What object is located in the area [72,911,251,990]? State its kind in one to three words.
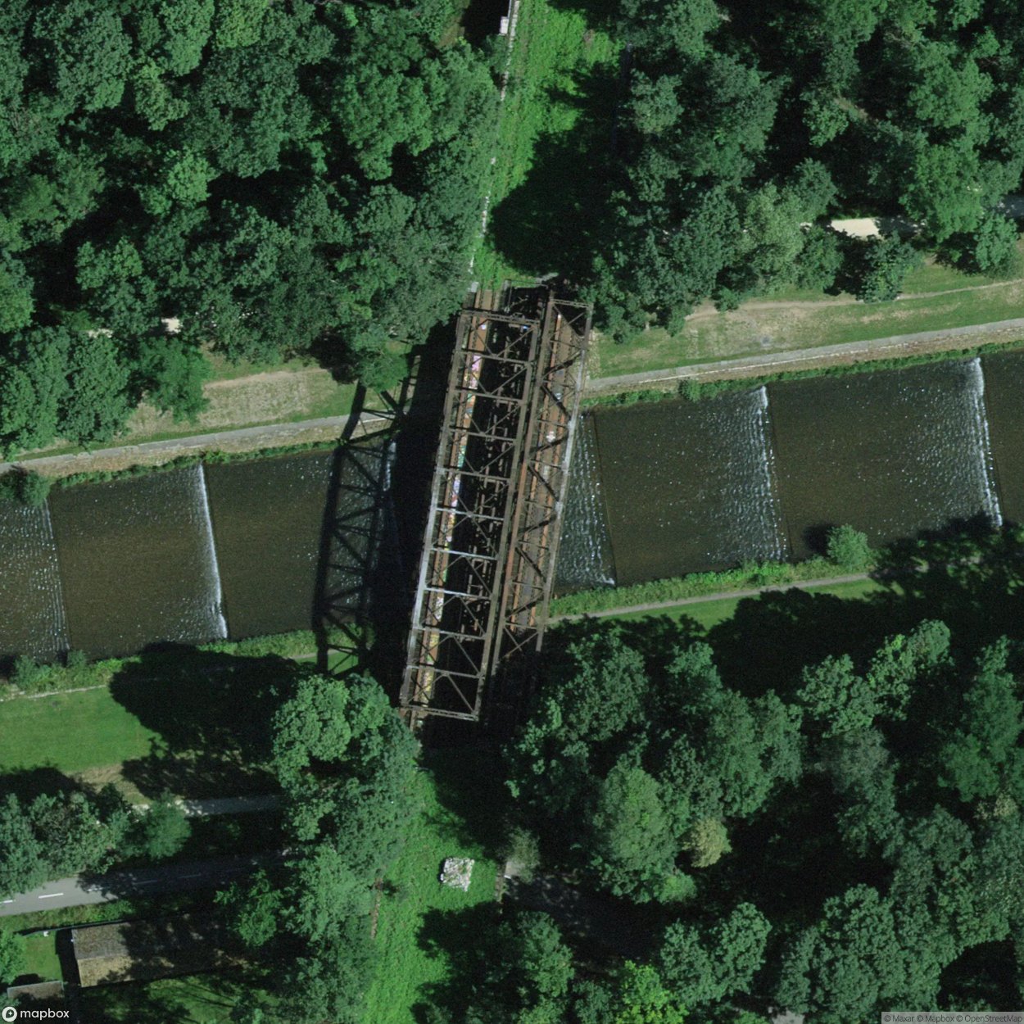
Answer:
shed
